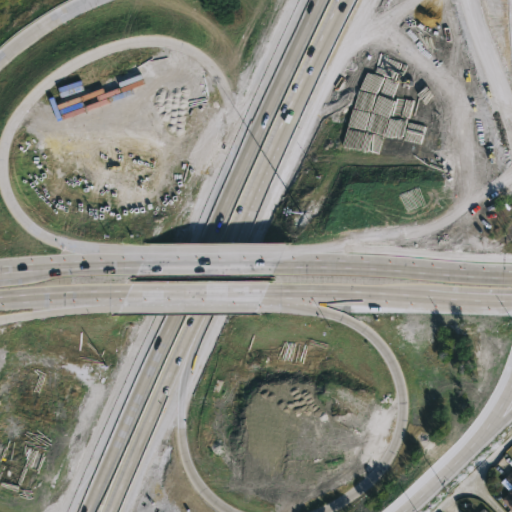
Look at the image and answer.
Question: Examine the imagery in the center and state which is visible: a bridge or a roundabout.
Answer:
bridge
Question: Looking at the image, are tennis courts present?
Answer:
No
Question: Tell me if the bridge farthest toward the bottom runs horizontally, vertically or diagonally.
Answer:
horizontally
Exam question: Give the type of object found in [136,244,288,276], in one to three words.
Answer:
bridge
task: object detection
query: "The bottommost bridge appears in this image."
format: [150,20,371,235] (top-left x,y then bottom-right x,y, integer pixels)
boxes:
[119,282,274,315]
